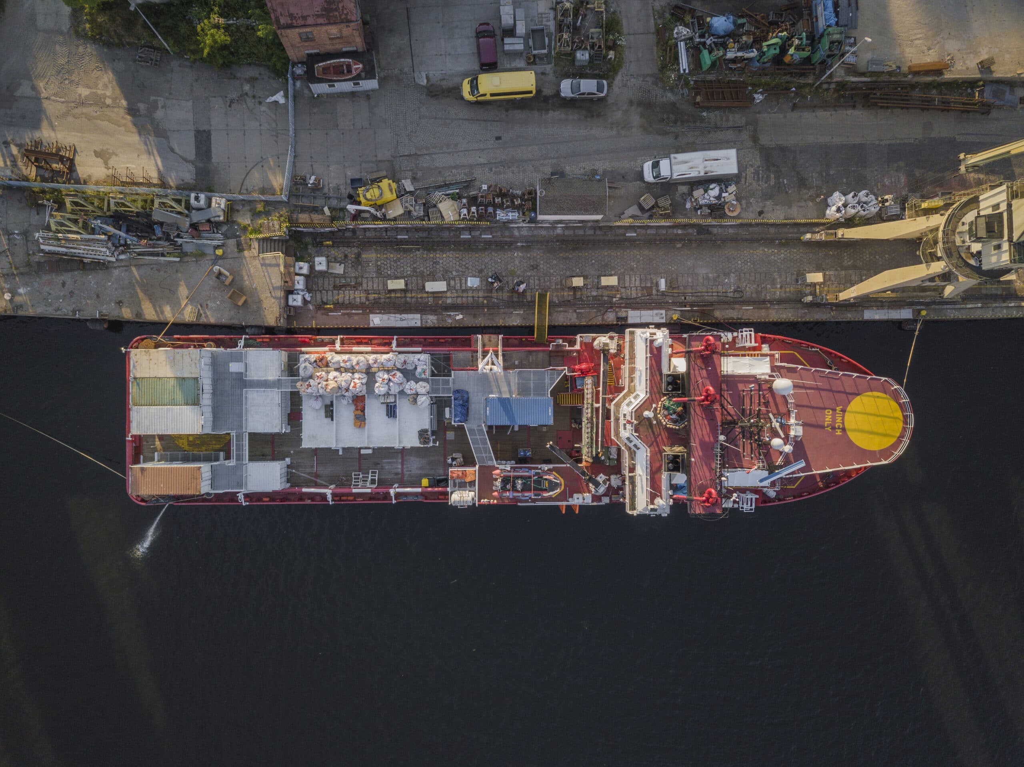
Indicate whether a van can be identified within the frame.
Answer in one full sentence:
Yes, looking at the shot, I can spot a van.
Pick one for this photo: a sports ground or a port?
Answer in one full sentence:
The picture captures a port.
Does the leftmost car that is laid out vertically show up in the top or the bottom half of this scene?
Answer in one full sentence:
The top half of the photo is where the leftmost car that is laid out vertically is.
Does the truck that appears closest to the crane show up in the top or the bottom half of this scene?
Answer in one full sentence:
You can find the truck that appears closest to the crane in the top half.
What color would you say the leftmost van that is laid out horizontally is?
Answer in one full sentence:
The color of the leftmost van that is laid out horizontally is yellow.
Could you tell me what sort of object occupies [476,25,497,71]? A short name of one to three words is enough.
car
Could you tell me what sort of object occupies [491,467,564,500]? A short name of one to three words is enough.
boat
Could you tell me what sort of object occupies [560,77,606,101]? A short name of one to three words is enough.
car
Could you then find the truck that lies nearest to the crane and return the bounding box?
[642,145,743,183]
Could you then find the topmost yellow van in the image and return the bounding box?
[463,70,535,102]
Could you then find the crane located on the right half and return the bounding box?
[800,133,1024,304]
